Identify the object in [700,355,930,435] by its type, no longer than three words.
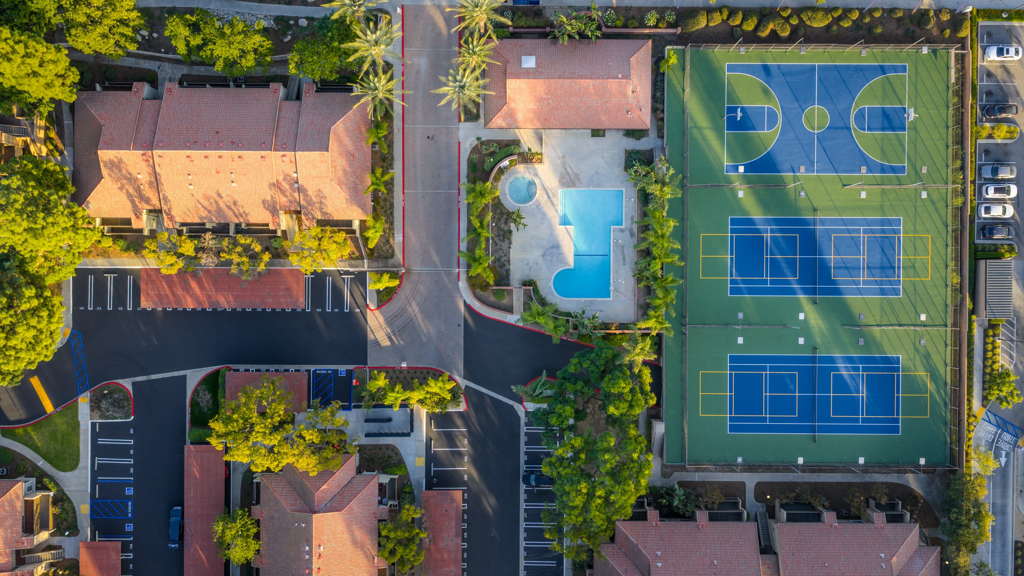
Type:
tennis court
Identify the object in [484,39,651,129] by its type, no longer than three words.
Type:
building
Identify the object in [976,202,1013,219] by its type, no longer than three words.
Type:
car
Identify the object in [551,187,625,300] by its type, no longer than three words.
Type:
swimming pool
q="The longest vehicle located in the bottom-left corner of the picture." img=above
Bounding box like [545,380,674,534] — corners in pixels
[166,506,184,549]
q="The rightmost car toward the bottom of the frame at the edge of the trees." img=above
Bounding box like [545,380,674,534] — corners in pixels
[523,472,558,493]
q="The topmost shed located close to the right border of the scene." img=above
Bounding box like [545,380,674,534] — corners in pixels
[968,260,1012,319]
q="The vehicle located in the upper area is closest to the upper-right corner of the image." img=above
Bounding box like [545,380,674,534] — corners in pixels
[983,43,1021,61]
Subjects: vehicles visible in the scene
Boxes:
[981,102,1018,119]
[976,202,1013,219]
[166,506,184,549]
[978,163,1016,180]
[980,182,1016,199]
[523,472,558,493]
[981,223,1015,240]
[983,43,1021,61]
